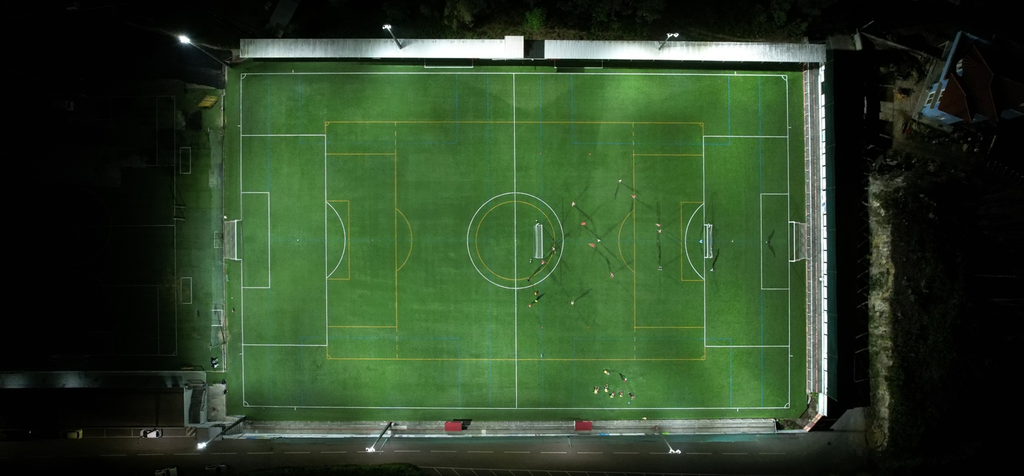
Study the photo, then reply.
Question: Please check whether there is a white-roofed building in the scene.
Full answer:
No, I find no white-roofed building anywhere in the image.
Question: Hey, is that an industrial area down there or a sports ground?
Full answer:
This looks like a sports ground.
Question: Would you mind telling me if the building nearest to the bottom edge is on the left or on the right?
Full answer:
The building nearest to the bottom edge appears in the left half of the scene.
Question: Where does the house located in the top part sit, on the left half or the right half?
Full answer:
You can find the house located in the top part on the right side of the picture.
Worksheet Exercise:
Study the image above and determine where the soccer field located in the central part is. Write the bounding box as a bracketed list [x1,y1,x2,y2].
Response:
[225,60,806,422]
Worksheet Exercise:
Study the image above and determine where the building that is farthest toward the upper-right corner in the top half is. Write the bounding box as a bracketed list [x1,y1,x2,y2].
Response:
[925,31,1024,128]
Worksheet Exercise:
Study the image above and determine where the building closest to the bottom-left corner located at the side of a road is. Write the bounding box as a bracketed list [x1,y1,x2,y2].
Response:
[0,385,191,426]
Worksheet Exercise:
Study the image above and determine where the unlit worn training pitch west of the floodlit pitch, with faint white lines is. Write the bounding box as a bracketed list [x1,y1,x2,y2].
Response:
[0,88,224,371]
